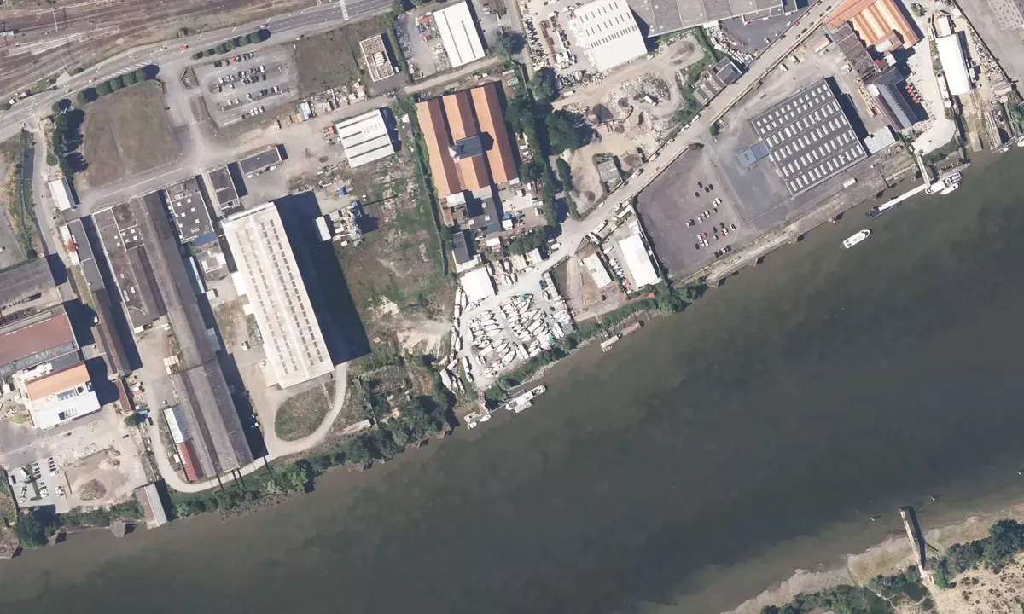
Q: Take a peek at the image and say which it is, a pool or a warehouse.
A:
warehouse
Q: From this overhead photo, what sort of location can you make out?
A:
port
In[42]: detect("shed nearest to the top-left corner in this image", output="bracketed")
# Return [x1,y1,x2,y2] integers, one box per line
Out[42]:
[49,178,77,211]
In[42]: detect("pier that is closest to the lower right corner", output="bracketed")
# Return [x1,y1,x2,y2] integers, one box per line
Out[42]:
[900,509,926,571]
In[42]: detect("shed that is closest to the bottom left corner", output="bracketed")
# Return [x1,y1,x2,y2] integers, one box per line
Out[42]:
[135,483,167,529]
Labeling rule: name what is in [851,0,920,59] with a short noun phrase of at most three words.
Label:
building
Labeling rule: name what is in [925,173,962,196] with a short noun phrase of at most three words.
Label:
boat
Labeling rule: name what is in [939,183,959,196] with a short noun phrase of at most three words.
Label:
boat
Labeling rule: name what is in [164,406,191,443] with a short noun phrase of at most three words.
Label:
shed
